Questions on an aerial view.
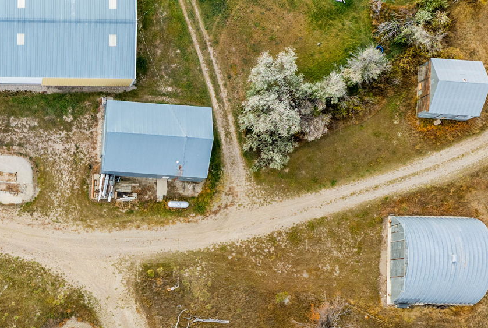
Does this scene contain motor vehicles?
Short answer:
No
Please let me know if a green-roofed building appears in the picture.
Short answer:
No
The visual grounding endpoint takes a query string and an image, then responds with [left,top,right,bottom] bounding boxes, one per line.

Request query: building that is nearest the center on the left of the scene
[100,100,214,183]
